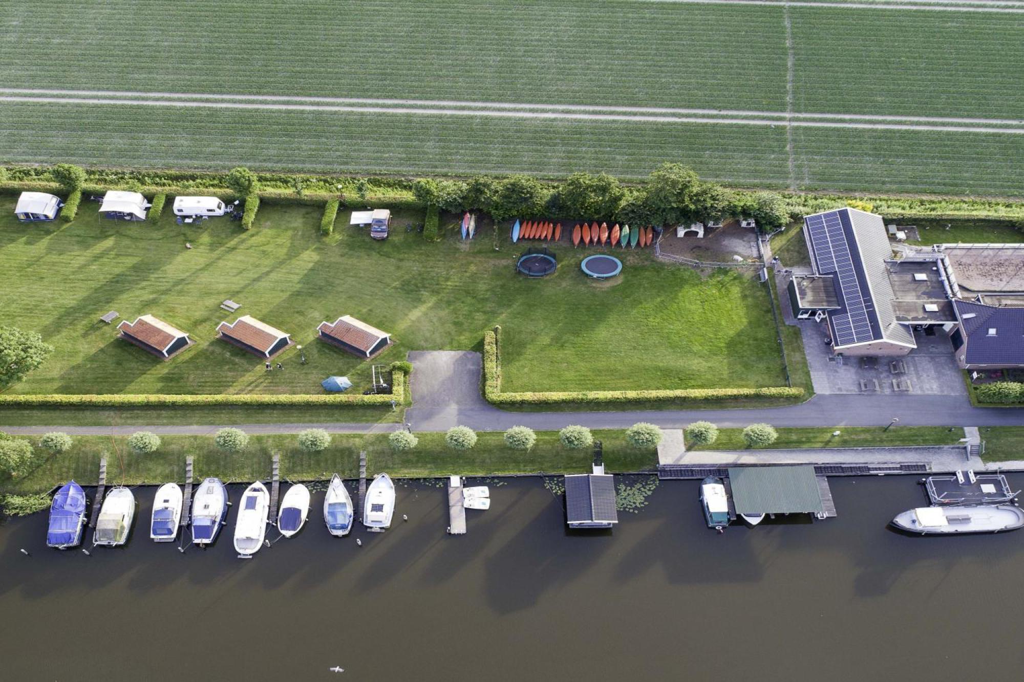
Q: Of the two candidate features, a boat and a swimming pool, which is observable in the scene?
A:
boat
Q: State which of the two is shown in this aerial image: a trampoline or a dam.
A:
trampoline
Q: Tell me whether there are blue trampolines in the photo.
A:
Yes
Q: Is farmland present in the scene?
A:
Yes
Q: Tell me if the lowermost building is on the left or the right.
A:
right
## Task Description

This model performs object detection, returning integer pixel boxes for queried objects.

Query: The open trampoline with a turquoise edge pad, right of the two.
[581,255,622,280]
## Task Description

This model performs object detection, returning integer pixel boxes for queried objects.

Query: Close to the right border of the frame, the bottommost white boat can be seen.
[891,505,1024,533]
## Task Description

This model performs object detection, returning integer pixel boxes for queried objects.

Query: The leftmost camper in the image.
[2,189,66,222]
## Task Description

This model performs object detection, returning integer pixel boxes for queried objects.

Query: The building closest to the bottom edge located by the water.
[726,466,824,515]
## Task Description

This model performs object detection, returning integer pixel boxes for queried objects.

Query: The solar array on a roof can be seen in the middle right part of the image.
[809,212,867,343]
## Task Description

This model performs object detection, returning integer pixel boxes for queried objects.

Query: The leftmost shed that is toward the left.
[116,318,195,360]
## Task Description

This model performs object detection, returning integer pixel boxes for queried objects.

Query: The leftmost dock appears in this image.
[89,458,109,527]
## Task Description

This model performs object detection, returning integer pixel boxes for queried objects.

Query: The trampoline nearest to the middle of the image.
[518,248,556,278]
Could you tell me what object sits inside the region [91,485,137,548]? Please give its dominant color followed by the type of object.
white boat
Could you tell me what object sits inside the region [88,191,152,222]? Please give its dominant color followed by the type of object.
white camper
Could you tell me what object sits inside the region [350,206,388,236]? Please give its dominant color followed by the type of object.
white van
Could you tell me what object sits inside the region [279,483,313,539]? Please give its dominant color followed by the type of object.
white boat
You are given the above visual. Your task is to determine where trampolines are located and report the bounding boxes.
[581,255,622,280]
[518,248,556,278]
